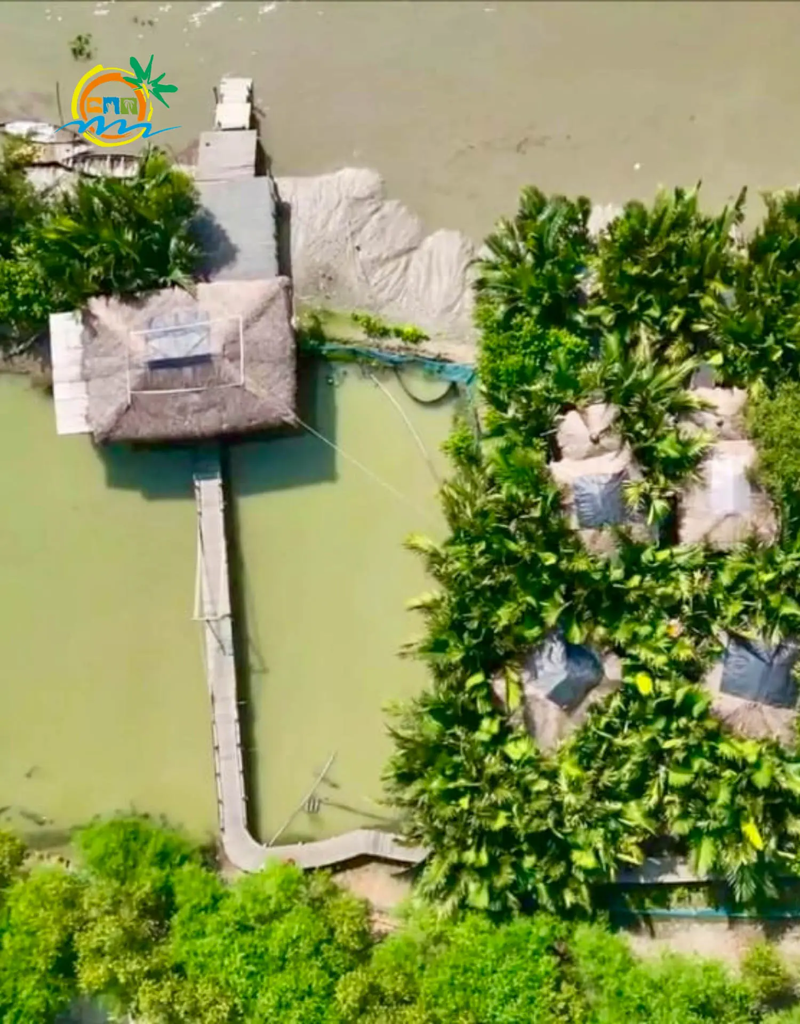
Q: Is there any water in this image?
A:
Yes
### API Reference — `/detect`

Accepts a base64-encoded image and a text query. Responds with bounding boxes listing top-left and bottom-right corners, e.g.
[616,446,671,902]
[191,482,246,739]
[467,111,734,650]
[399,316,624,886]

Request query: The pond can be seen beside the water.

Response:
[0,352,485,856]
